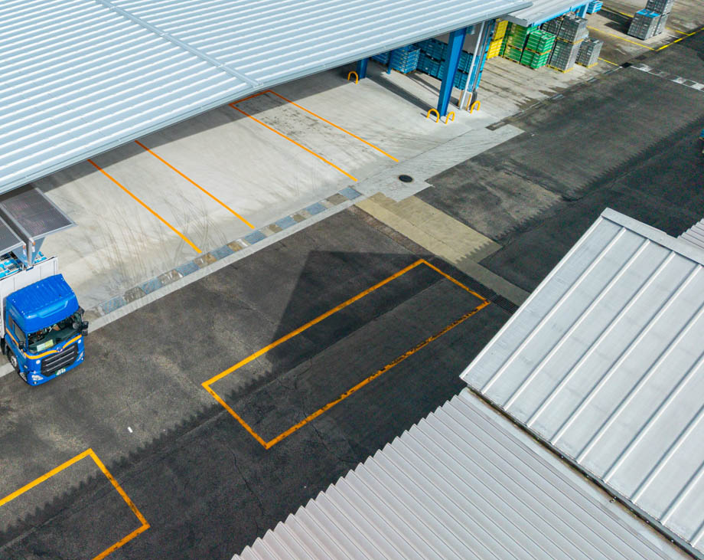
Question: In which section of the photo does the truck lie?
left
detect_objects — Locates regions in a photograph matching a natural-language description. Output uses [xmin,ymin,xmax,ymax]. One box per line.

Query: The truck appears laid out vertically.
[0,190,90,382]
